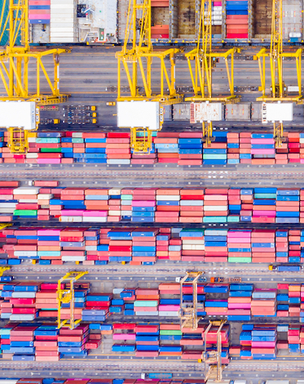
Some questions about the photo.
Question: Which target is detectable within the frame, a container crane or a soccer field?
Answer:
container crane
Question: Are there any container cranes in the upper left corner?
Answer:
Yes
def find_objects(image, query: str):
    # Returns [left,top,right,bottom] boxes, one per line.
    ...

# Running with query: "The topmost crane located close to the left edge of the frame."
[0,0,70,155]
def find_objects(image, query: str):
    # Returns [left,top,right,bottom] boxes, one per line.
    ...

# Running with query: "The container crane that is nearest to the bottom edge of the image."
[202,317,229,383]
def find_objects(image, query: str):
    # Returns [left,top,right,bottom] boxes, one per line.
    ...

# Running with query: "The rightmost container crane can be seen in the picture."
[254,0,304,150]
